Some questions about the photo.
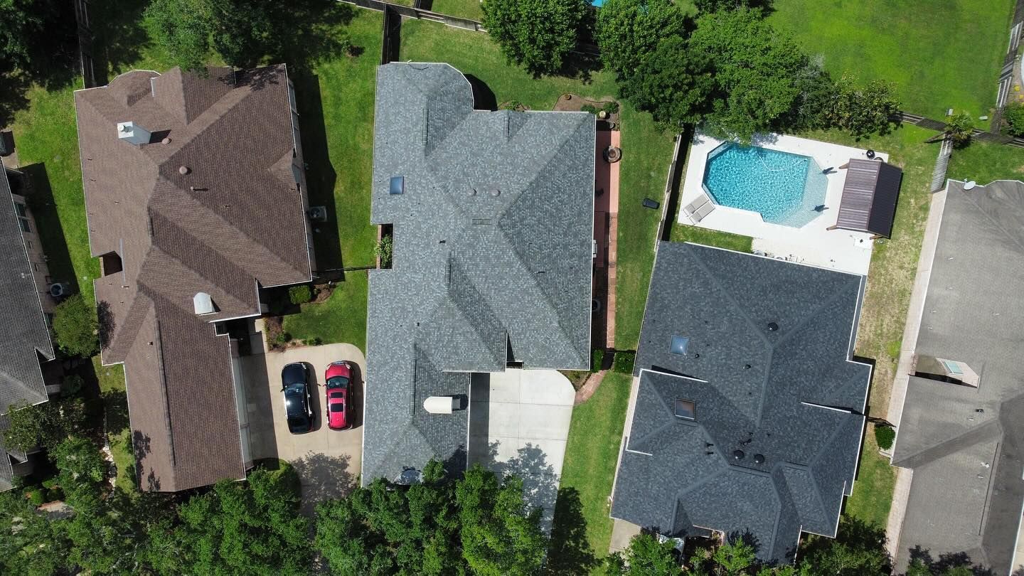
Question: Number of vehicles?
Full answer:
I count 2 vehicles.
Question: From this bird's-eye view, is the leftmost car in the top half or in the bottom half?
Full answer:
It is in the bottom half that the leftmost car appears.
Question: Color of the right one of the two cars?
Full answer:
The color of the right one of the two cars is red.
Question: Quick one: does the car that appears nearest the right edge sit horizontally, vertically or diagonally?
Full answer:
From this overhead view, the car that appears nearest the right edge appears to run vertically.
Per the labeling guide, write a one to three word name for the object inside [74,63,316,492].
house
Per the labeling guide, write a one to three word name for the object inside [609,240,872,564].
house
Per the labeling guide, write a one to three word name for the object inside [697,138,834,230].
swimming pool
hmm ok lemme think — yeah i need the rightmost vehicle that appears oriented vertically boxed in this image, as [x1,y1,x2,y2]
[323,362,356,429]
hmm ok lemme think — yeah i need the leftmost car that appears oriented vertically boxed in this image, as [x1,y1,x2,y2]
[279,363,317,434]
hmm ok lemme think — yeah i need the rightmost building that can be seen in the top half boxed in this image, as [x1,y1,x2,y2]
[825,158,909,239]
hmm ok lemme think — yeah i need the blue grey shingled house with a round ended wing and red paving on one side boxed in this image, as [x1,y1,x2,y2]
[361,62,596,490]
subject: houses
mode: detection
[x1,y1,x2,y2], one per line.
[0,160,71,495]
[74,63,316,492]
[609,240,872,564]
[877,179,1024,576]
[361,62,596,490]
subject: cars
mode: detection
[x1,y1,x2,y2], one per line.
[323,362,356,429]
[279,363,317,434]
